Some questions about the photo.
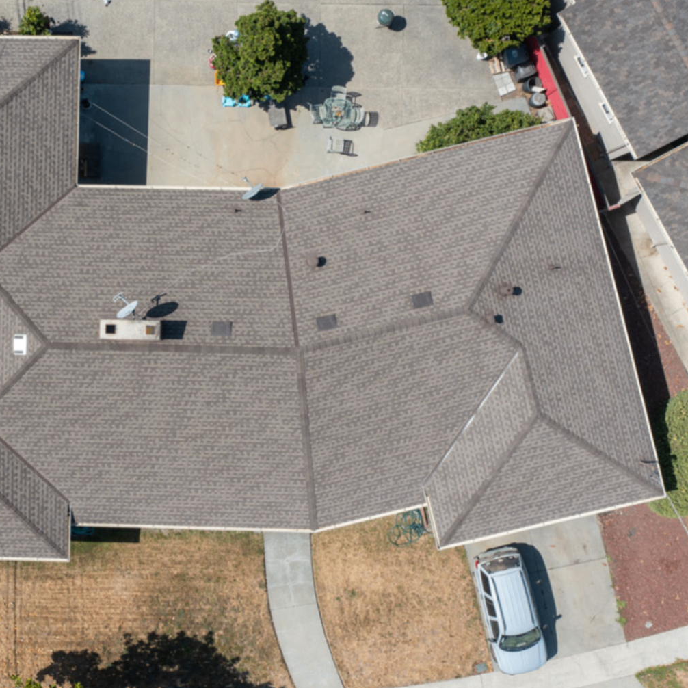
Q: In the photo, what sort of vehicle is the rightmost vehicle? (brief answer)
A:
automobile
